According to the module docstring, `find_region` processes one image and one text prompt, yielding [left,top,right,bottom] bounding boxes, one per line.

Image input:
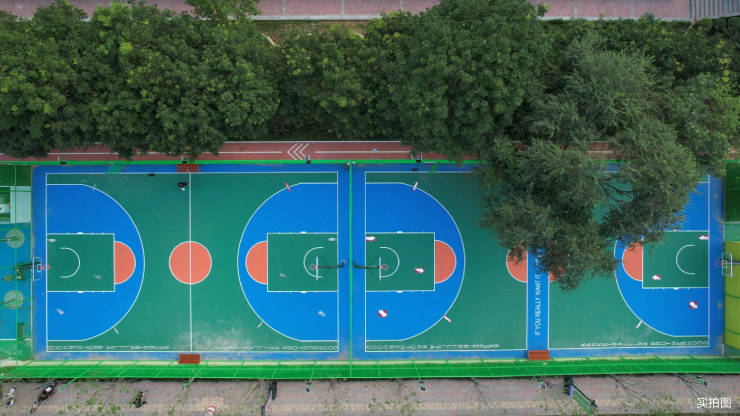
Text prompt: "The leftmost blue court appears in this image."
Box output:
[0,164,31,361]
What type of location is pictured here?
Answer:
sports ground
